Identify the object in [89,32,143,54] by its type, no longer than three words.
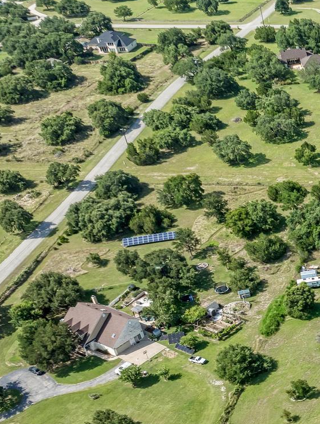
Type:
house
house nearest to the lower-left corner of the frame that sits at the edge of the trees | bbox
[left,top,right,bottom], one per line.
[63,292,143,354]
